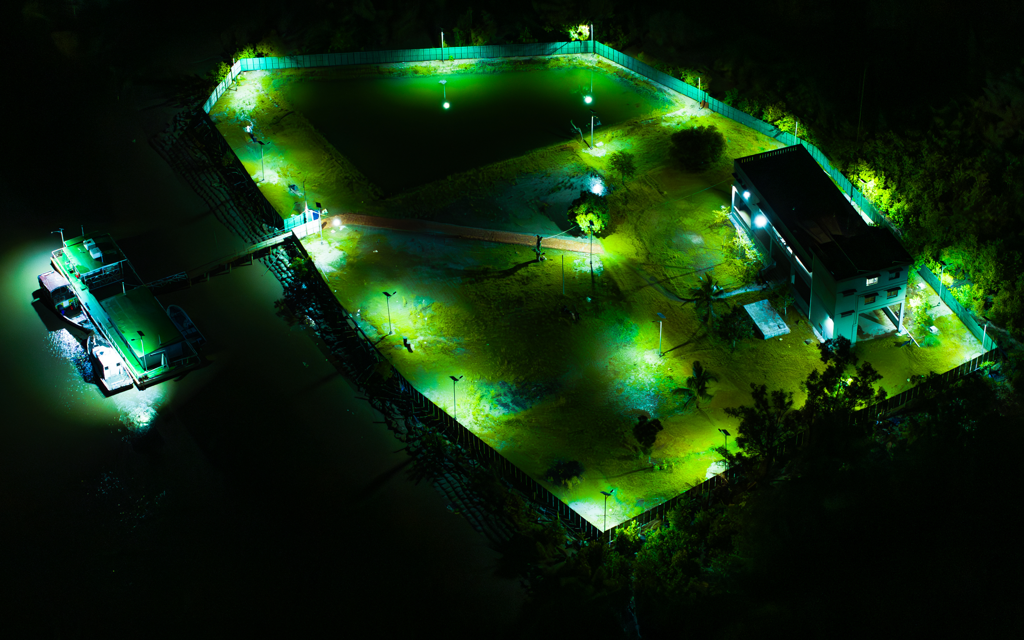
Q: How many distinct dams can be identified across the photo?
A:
none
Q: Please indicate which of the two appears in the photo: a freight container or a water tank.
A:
water tank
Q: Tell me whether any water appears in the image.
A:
Yes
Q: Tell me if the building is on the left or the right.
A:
right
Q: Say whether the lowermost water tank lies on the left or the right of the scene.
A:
right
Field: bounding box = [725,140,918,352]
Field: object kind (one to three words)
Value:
building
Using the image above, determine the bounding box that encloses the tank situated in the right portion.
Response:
[749,299,790,342]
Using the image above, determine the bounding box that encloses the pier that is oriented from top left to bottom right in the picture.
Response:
[49,233,203,387]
